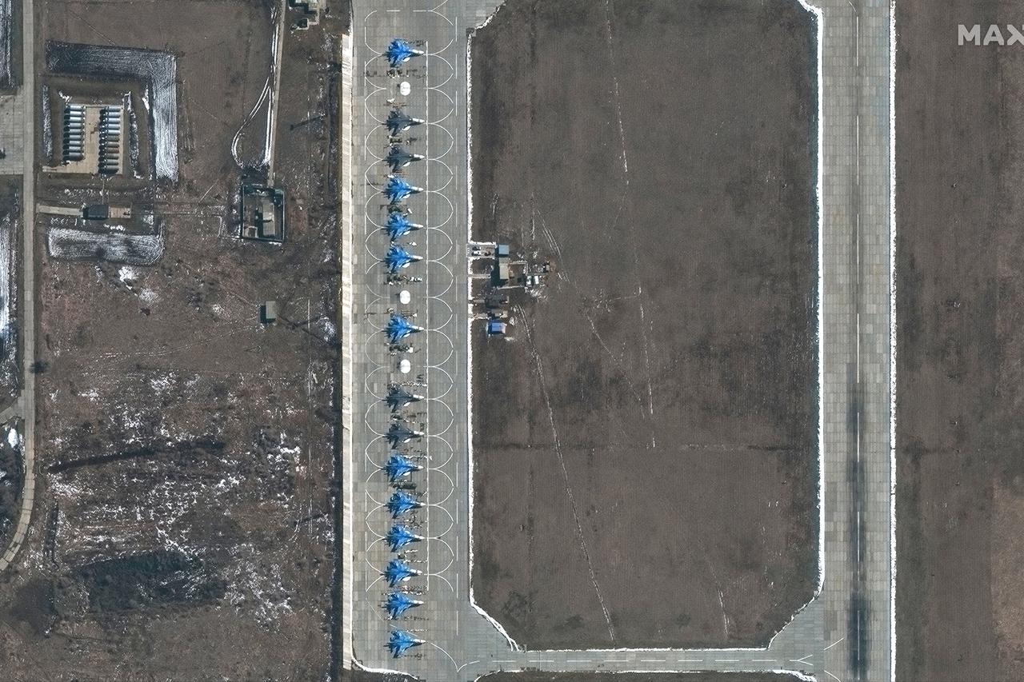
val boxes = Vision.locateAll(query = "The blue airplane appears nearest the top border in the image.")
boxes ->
[385,40,424,64]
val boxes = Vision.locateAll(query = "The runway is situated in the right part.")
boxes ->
[802,0,892,682]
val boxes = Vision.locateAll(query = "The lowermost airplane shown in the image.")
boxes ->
[387,629,426,654]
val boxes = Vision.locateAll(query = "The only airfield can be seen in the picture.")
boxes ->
[352,0,892,682]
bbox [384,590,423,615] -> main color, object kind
blue airplane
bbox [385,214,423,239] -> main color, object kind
blue airplane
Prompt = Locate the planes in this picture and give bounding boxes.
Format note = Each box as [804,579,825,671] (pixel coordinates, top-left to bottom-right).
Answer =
[385,421,424,446]
[385,525,425,550]
[386,145,425,169]
[385,316,424,341]
[386,109,425,133]
[387,629,426,654]
[384,246,423,270]
[385,40,424,64]
[387,492,426,517]
[385,385,424,409]
[383,560,422,585]
[384,455,423,480]
[385,214,423,239]
[384,177,423,201]
[384,590,423,615]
